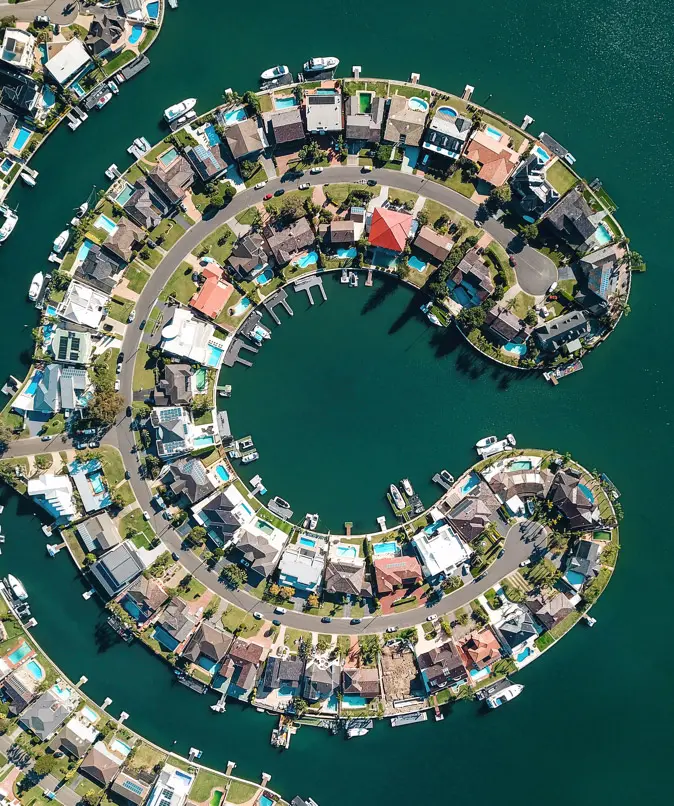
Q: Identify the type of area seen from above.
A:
residential area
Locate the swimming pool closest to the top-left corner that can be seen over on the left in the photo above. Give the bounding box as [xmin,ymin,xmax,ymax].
[37,41,50,68]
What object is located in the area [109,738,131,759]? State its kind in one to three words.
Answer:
swimming pool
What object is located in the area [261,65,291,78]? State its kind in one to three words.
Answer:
boat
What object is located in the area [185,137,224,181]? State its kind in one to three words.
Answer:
house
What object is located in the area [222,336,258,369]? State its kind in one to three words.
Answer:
pier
